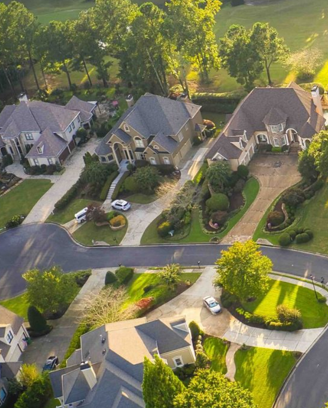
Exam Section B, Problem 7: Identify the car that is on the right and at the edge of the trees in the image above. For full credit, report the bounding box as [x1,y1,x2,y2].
[202,292,221,316]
